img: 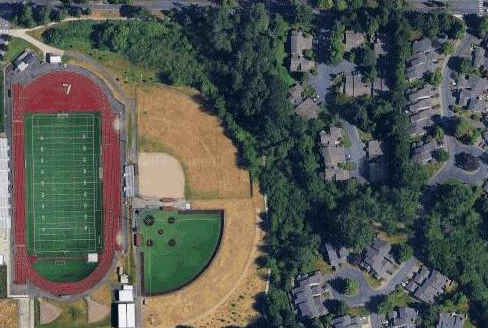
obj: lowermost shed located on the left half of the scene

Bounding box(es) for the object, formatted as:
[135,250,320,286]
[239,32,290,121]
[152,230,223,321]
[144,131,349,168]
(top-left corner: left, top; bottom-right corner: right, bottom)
[118,304,135,328]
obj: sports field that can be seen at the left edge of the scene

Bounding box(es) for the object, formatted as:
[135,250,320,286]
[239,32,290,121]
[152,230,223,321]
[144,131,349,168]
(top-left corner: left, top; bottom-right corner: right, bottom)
[24,112,102,283]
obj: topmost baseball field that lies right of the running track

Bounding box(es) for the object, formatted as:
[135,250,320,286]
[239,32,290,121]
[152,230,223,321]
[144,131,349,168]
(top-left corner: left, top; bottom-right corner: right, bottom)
[139,151,184,198]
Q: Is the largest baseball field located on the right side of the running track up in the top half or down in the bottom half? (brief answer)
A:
bottom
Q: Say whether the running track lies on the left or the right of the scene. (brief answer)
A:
left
